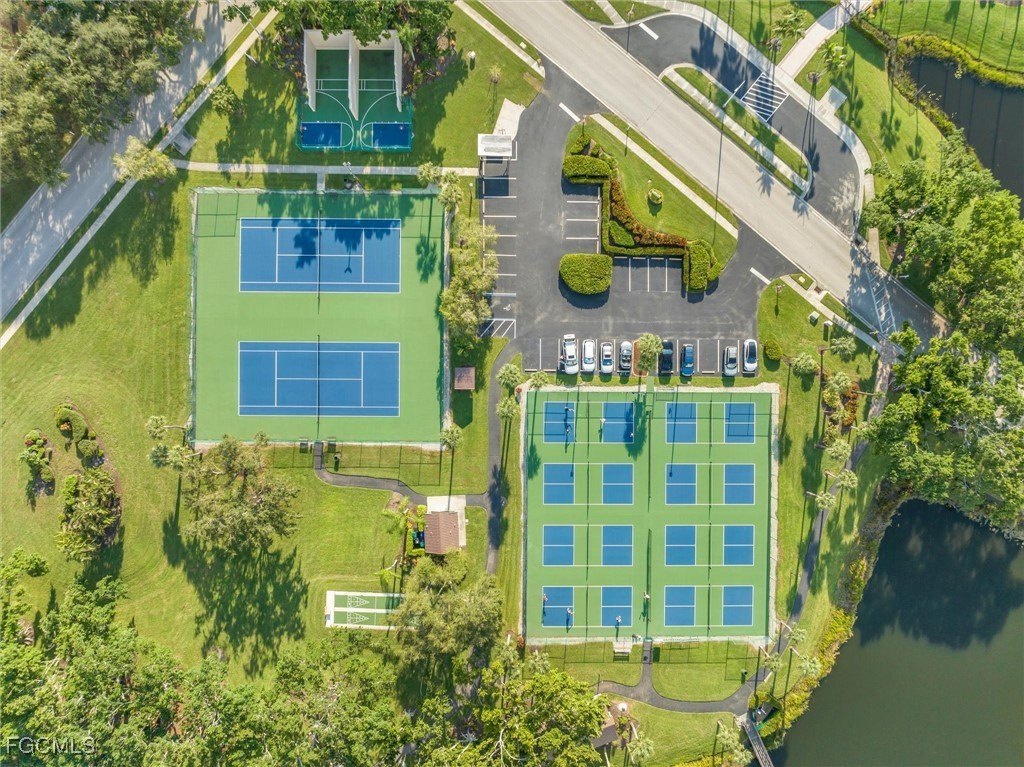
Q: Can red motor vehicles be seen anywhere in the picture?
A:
No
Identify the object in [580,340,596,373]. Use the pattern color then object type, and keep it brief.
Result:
white car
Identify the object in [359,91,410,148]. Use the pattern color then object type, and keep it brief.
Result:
blue basketball court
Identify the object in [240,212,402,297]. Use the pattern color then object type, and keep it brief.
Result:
blue tennis court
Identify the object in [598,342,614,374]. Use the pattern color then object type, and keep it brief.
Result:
white car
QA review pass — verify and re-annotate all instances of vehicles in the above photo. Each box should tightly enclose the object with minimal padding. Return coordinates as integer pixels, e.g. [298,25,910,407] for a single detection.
[722,346,739,377]
[598,342,614,374]
[619,341,634,370]
[580,340,596,373]
[558,336,579,374]
[741,339,758,371]
[659,340,676,373]
[680,344,696,377]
